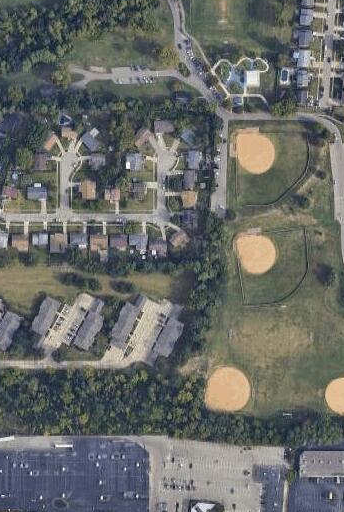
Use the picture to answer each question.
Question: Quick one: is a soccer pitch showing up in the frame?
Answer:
Yes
